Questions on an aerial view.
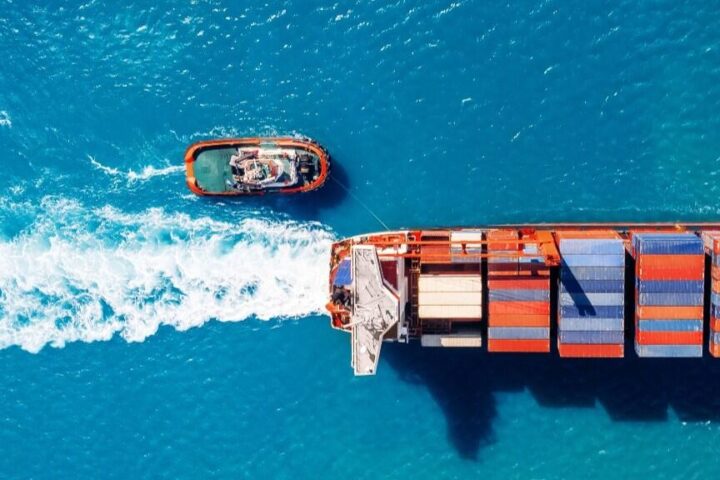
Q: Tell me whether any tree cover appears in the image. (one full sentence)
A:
No, tree cover can't be seen anywhere here.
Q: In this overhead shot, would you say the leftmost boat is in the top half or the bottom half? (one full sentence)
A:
The leftmost boat sits in the top half of the picture.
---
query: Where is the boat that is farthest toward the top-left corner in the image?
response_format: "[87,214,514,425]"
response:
[186,136,333,197]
